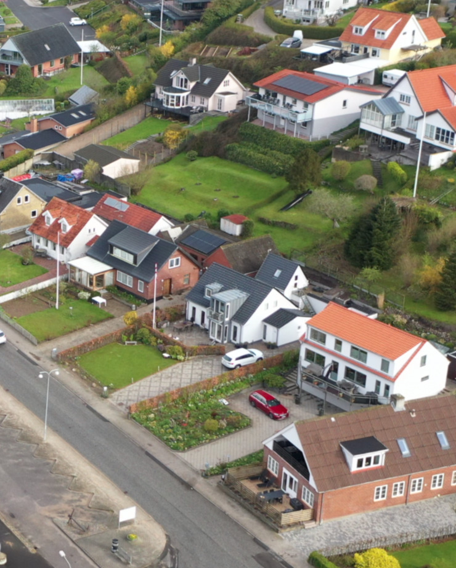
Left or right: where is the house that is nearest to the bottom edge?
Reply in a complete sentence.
It is on the right.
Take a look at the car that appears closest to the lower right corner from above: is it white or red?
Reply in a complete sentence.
From above, the car that appears closest to the lower right corner appears red.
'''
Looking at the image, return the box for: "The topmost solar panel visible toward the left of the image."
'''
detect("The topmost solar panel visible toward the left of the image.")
[102,195,130,210]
